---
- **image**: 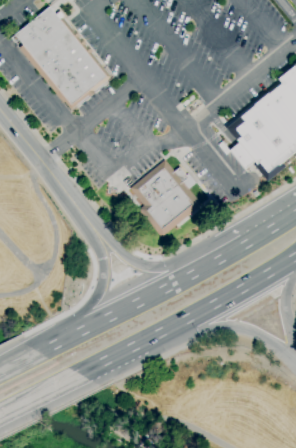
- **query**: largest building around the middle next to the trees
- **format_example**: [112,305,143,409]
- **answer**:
[130,160,198,235]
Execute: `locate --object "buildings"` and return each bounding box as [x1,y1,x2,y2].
[222,63,296,180]
[15,3,110,110]
[130,160,198,235]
